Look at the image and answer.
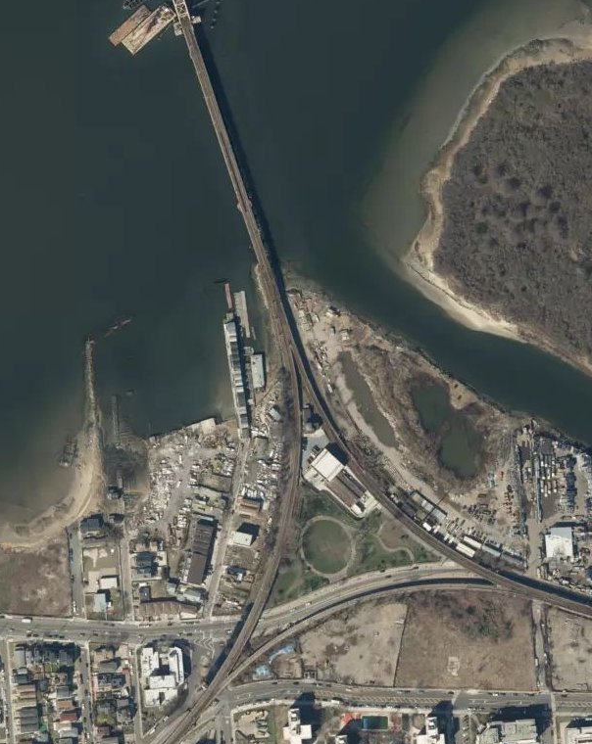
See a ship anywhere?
Yes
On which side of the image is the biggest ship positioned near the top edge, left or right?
left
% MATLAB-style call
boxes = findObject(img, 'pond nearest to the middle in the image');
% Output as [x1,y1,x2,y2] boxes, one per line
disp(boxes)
[340,351,398,448]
